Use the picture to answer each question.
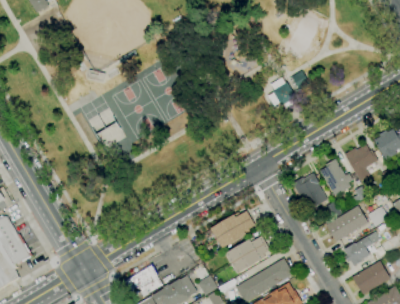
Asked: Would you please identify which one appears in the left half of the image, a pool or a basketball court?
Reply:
basketball court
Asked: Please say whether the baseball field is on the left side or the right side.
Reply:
left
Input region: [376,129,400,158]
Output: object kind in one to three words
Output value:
house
